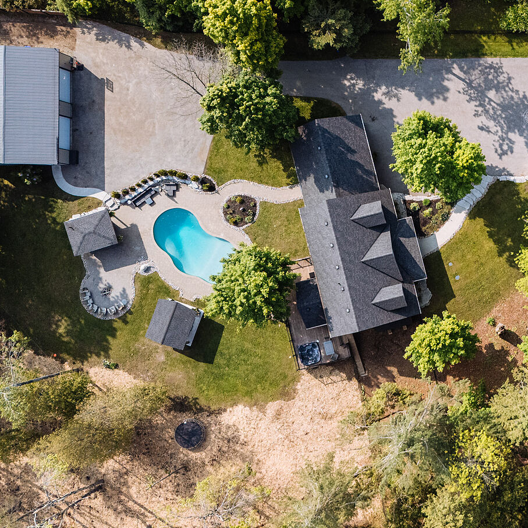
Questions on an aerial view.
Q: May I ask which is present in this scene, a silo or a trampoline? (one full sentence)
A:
This aerial view contains a trampoline.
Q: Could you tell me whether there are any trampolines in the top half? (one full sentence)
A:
No, no trampoline is visible in the top half.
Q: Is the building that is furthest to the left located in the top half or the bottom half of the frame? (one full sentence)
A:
The building that is furthest to the left is in the top half of the image.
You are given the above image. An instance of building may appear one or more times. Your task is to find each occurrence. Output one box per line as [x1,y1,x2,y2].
[146,298,205,350]
[284,115,428,338]
[0,44,73,166]
[63,208,126,257]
